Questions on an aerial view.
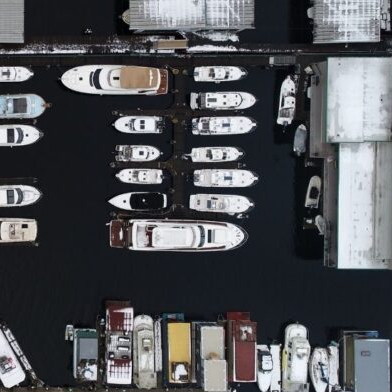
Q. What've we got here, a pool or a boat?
boat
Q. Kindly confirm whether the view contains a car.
No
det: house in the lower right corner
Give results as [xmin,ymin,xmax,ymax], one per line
[339,329,391,392]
